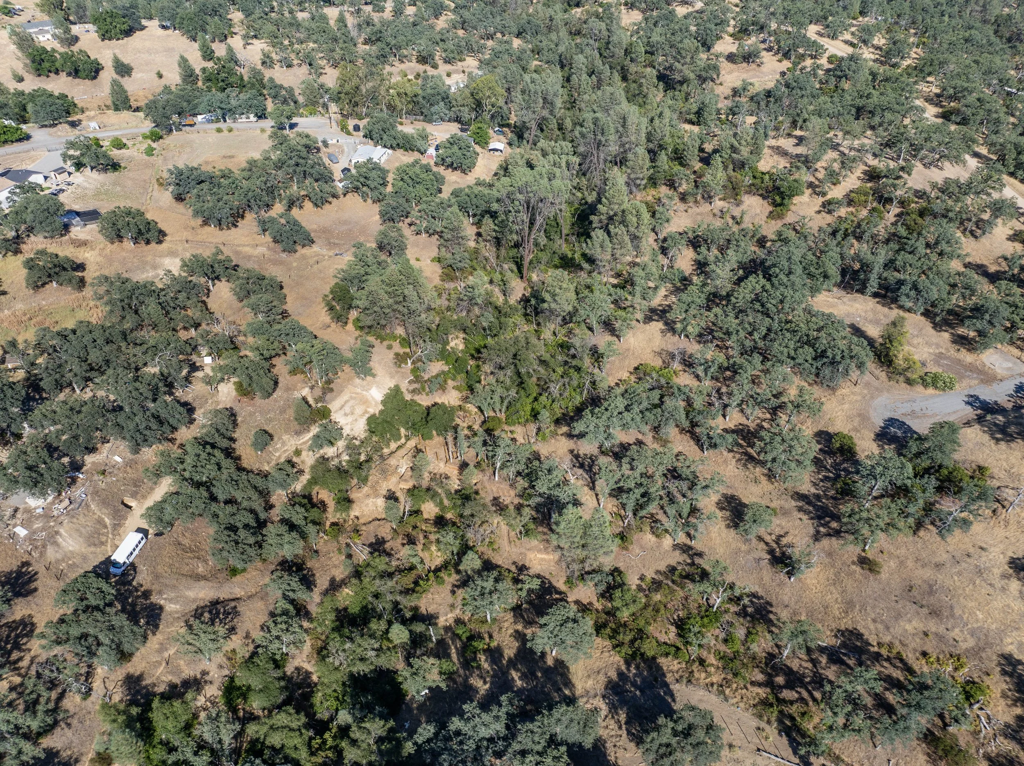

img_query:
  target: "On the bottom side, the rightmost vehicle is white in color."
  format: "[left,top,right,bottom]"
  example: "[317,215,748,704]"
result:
[106,527,147,575]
